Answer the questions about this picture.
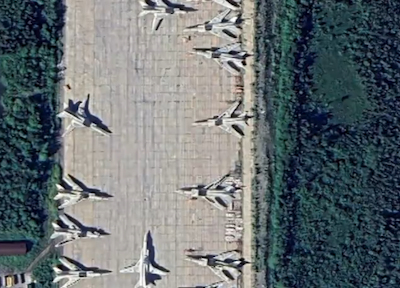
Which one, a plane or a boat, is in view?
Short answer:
plane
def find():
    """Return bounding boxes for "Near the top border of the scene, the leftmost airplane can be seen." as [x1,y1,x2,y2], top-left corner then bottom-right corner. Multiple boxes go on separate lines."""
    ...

[140,0,193,31]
